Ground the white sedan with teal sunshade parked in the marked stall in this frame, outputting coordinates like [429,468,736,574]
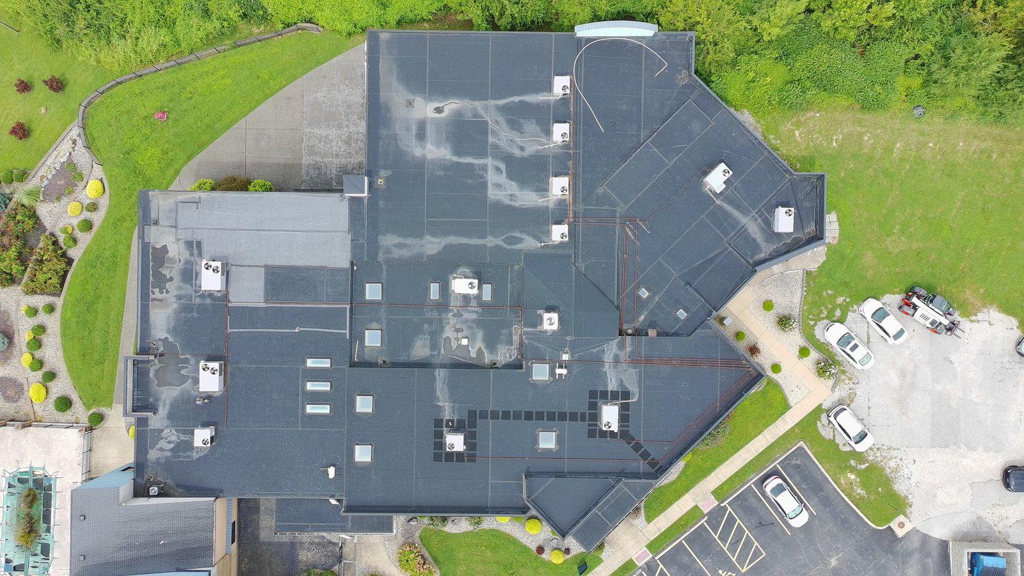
[760,472,810,529]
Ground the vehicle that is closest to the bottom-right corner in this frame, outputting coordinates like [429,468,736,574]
[1000,464,1024,492]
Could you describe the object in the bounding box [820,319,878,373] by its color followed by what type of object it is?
white car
